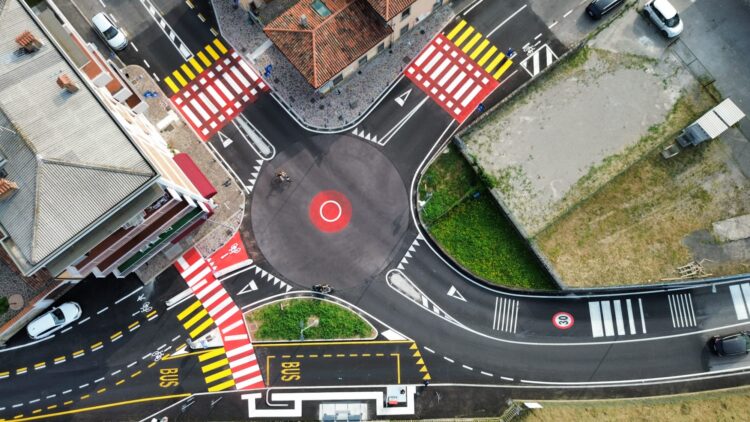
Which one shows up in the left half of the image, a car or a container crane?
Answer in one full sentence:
The feature located in the left half of the image is a car.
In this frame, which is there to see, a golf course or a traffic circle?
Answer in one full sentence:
This aerial view contains a traffic circle.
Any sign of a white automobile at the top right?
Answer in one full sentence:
Yes, at the top right there is a white automobile.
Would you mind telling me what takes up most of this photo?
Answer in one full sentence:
Most of the picture is covered by paved ground.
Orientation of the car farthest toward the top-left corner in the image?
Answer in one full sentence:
I'd say the car farthest toward the top-left corner is aligned on a diagonal in the picture.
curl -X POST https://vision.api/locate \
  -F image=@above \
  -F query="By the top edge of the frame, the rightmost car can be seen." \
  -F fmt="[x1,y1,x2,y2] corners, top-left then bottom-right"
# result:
[645,0,680,34]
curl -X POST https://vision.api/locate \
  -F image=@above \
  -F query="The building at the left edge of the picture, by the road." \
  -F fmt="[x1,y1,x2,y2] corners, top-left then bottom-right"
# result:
[0,0,223,284]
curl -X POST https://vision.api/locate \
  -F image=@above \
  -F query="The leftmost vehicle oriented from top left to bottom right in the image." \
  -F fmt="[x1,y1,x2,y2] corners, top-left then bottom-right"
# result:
[90,10,127,49]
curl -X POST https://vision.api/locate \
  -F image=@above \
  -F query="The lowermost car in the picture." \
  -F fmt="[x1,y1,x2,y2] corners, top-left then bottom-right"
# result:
[710,333,750,360]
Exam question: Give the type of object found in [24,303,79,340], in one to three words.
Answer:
car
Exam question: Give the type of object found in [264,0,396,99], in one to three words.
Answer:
house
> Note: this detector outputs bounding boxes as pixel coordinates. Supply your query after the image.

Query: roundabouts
[250,134,411,293]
